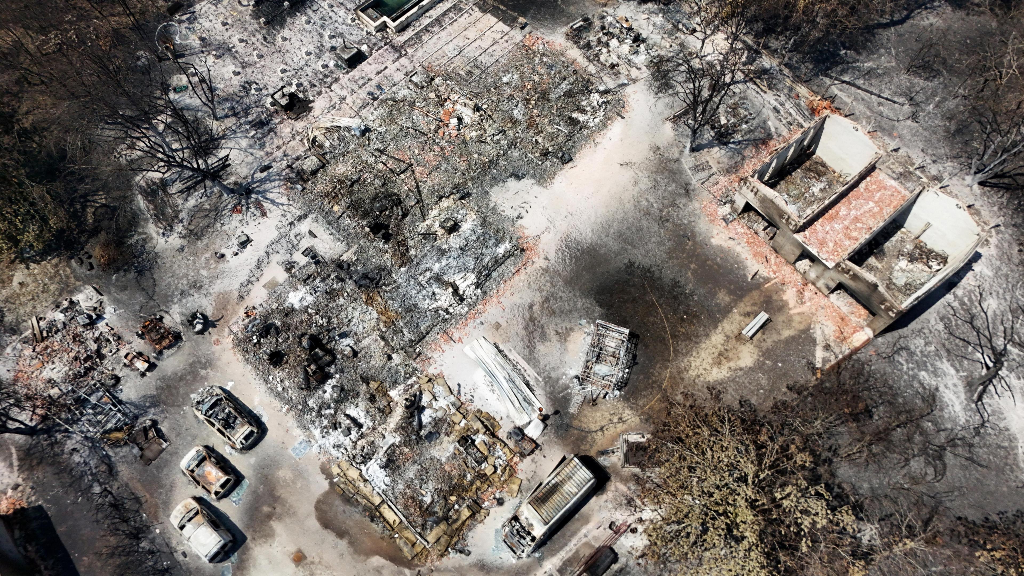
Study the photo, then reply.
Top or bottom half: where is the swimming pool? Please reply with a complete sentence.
The top half of the photo is where the swimming pool is.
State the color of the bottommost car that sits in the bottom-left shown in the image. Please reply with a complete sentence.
The color of the bottommost car that sits in the bottom-left is white.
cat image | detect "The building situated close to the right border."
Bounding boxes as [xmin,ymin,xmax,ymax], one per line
[729,114,990,338]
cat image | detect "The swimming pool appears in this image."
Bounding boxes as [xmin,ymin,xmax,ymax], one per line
[353,0,452,33]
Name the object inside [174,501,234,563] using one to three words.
car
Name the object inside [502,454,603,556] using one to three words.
van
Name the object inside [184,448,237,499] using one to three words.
car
